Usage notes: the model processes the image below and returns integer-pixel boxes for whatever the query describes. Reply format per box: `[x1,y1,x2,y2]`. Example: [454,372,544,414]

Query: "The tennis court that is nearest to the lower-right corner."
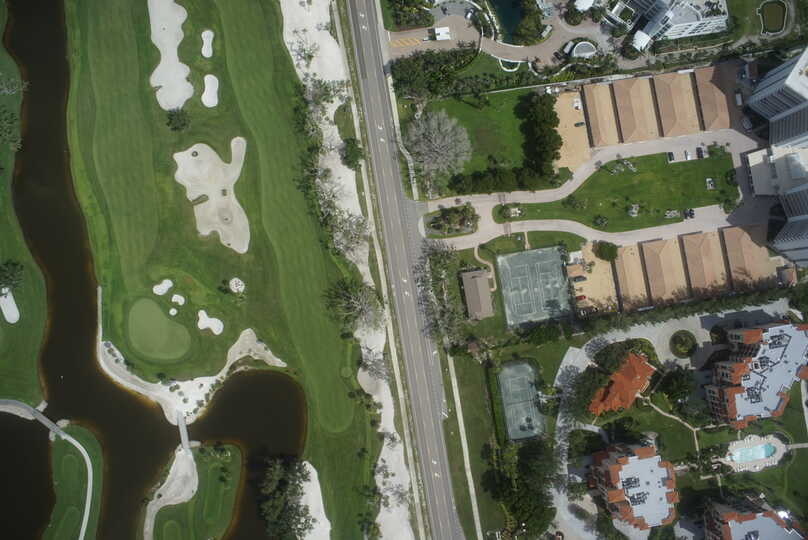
[498,361,548,441]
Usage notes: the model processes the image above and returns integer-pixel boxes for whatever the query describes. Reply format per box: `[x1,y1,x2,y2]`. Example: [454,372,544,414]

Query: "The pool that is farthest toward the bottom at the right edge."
[717,435,788,472]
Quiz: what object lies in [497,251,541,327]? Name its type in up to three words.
tennis court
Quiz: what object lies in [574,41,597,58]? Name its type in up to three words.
fountain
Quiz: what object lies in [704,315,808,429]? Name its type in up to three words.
building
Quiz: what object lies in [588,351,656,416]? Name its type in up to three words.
house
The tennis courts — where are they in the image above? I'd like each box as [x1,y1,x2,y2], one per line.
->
[497,251,541,327]
[498,361,548,441]
[529,246,573,319]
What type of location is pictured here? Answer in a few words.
golf course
